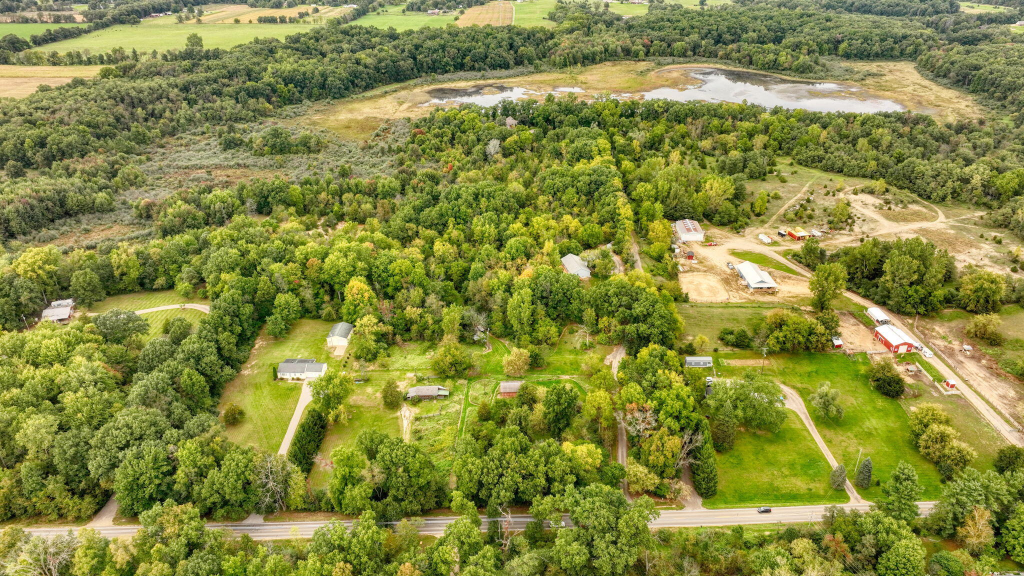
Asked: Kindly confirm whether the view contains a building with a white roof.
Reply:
Yes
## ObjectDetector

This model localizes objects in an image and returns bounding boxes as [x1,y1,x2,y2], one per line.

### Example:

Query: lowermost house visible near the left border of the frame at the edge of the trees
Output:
[40,305,79,328]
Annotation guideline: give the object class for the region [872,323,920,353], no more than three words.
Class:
barn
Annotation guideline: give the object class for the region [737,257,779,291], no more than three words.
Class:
house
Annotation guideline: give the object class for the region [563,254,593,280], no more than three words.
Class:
house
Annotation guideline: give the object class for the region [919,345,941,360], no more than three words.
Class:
vehicle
